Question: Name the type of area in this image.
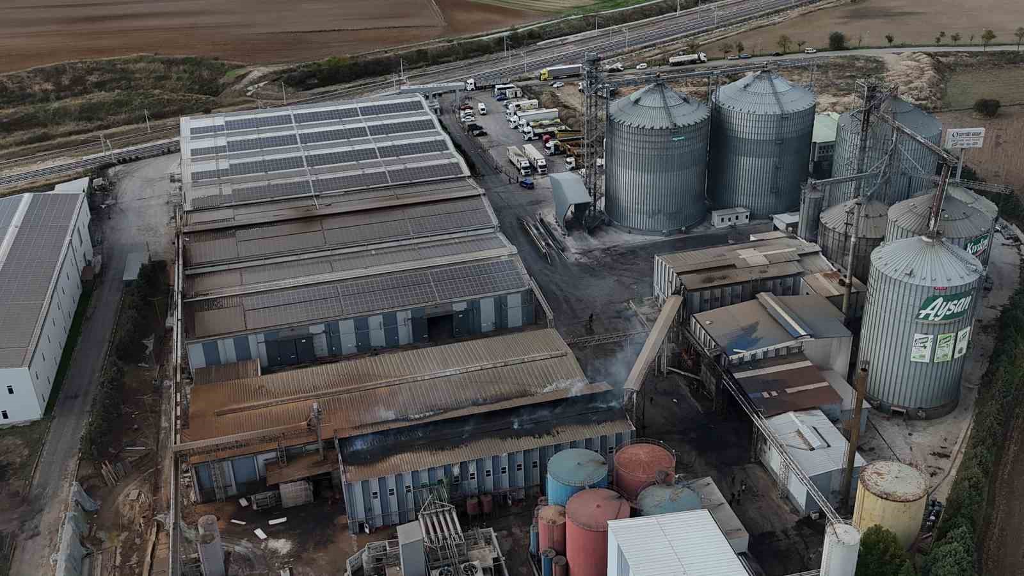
industrial area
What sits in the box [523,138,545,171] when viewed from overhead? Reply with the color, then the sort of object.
white truck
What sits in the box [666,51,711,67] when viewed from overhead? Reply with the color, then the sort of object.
white vehicle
